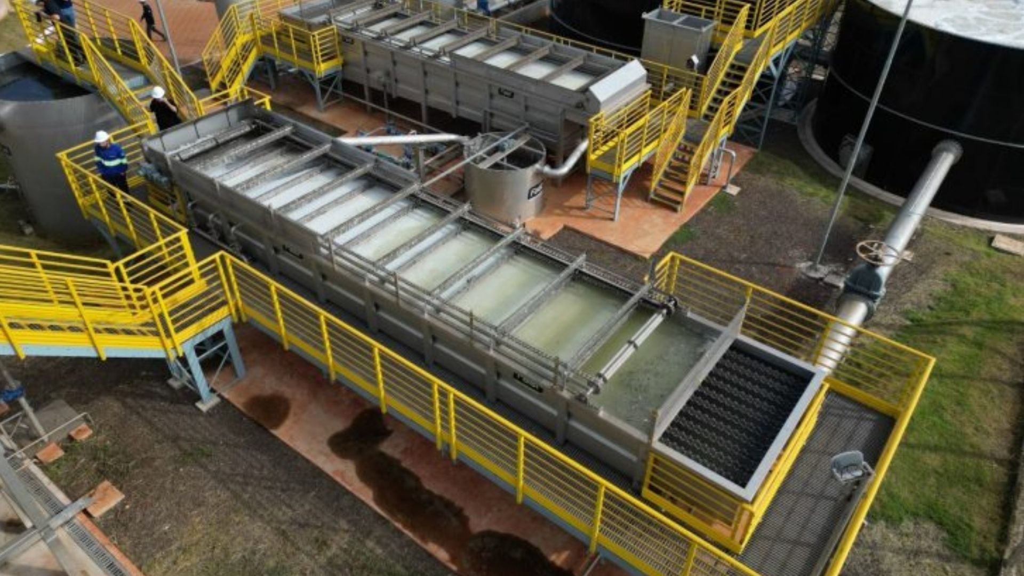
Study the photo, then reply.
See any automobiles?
No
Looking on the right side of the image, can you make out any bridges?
No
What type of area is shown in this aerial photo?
industrial area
